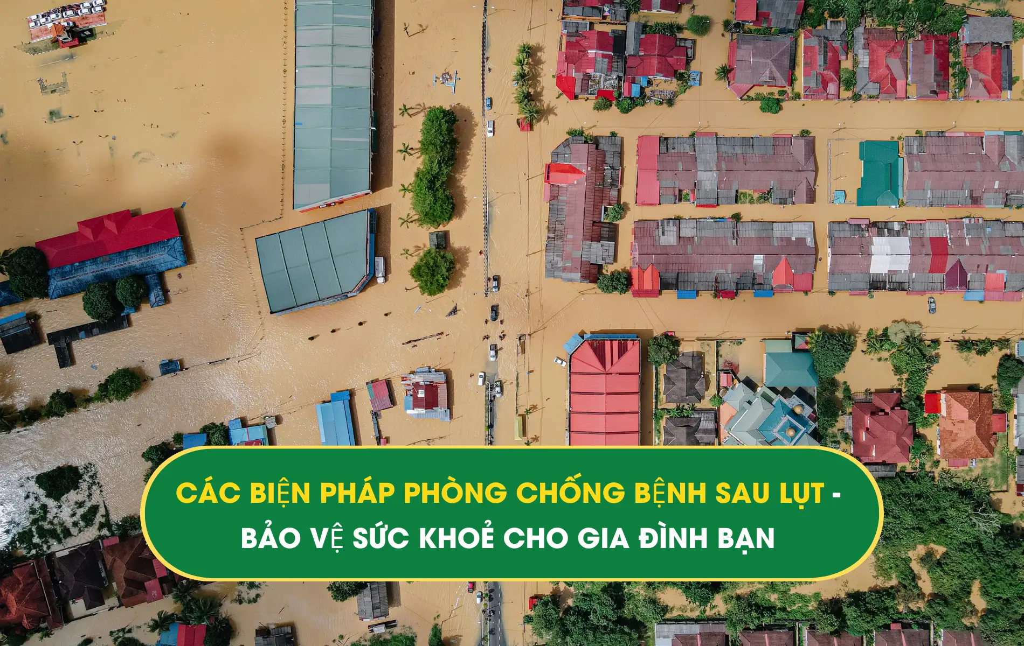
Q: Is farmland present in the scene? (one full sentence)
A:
No, the picture contains no farmland.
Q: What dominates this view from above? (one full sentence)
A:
For the most part, this view shows water.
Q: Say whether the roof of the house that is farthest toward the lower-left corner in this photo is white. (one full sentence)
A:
No, the roof of the house that is farthest toward the lower-left corner is actually red.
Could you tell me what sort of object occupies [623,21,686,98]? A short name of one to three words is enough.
house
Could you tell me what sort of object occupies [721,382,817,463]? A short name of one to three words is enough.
building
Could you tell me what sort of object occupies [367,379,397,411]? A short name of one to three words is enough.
shed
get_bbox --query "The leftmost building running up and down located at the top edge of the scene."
[293,0,377,212]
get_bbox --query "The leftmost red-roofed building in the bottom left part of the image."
[0,555,69,629]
